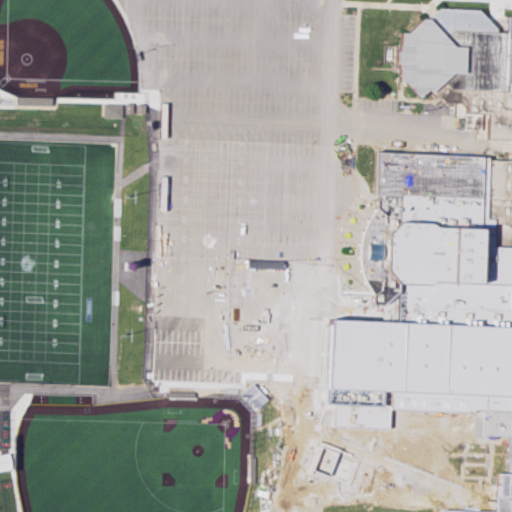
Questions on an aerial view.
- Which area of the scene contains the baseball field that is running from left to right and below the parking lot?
bottom left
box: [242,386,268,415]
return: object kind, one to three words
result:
building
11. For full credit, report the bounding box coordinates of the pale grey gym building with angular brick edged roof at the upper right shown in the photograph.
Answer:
[398,10,512,98]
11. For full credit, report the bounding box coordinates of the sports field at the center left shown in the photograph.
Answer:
[0,142,115,384]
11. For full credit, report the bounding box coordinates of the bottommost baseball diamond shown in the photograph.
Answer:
[18,396,250,512]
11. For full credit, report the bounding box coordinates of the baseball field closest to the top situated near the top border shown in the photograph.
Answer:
[0,0,138,98]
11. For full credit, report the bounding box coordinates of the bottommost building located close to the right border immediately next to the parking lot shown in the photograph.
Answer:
[328,152,512,428]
